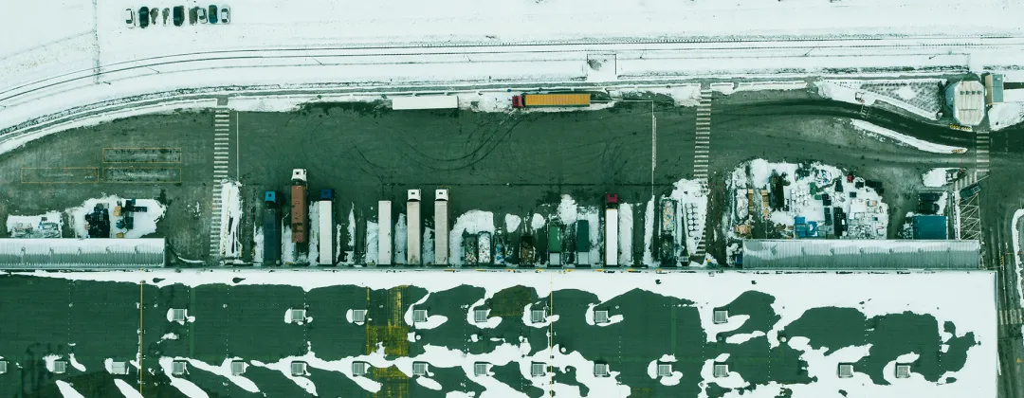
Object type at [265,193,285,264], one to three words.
vehicle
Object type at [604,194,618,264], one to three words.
vehicle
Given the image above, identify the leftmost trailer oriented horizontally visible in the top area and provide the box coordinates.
[393,96,460,112]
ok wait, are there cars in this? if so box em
[915,203,939,213]
[198,7,209,25]
[916,192,939,202]
[174,7,184,26]
[208,5,219,24]
[126,8,137,29]
[140,8,151,28]
[221,6,232,25]
[956,183,981,198]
